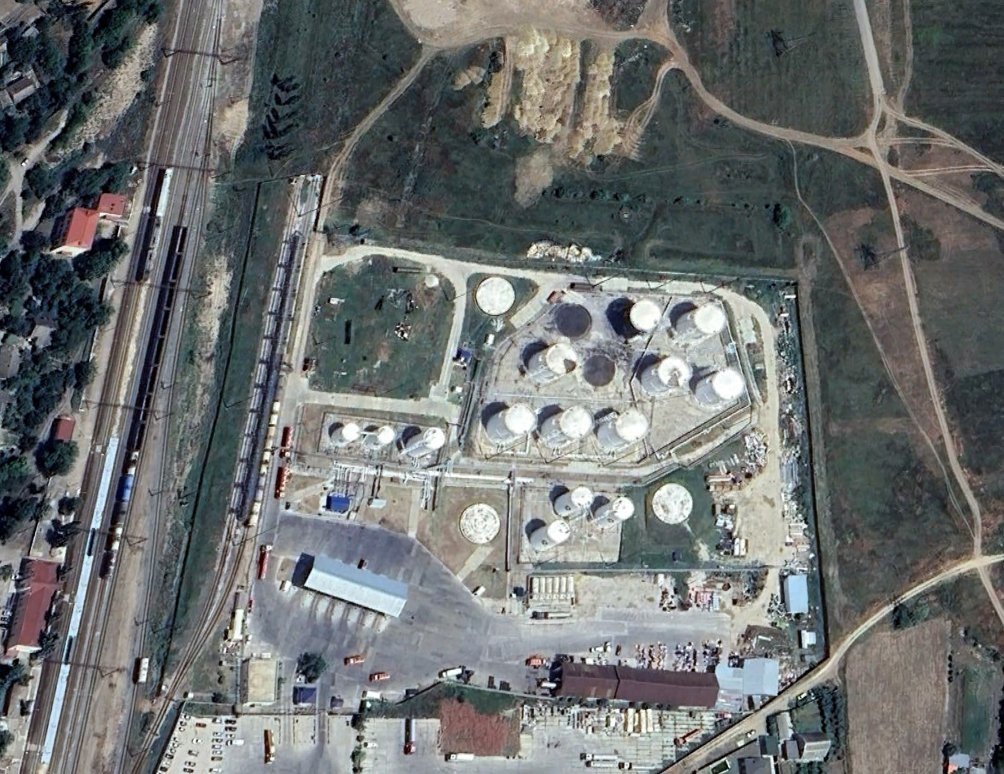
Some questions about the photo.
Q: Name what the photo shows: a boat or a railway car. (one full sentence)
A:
Visible in the photo is a railway car.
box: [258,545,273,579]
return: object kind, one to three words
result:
vehicle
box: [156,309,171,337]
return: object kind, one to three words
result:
rail car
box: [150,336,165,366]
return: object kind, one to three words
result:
rail car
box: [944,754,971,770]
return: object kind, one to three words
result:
house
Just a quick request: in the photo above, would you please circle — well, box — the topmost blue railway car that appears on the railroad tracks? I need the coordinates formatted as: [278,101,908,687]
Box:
[120,475,134,503]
